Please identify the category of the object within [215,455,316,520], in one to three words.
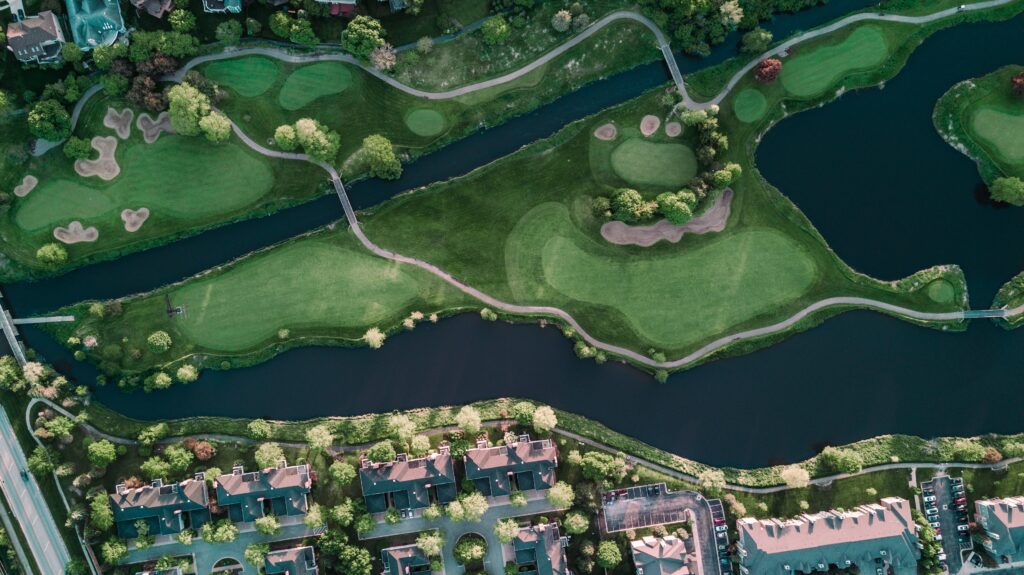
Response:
house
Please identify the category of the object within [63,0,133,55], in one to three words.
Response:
house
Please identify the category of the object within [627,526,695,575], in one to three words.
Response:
building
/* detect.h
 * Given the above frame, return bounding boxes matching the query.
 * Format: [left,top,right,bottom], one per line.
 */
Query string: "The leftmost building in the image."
[3,9,66,69]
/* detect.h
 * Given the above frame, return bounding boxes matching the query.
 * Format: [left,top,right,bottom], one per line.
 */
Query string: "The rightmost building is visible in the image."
[970,486,1024,554]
